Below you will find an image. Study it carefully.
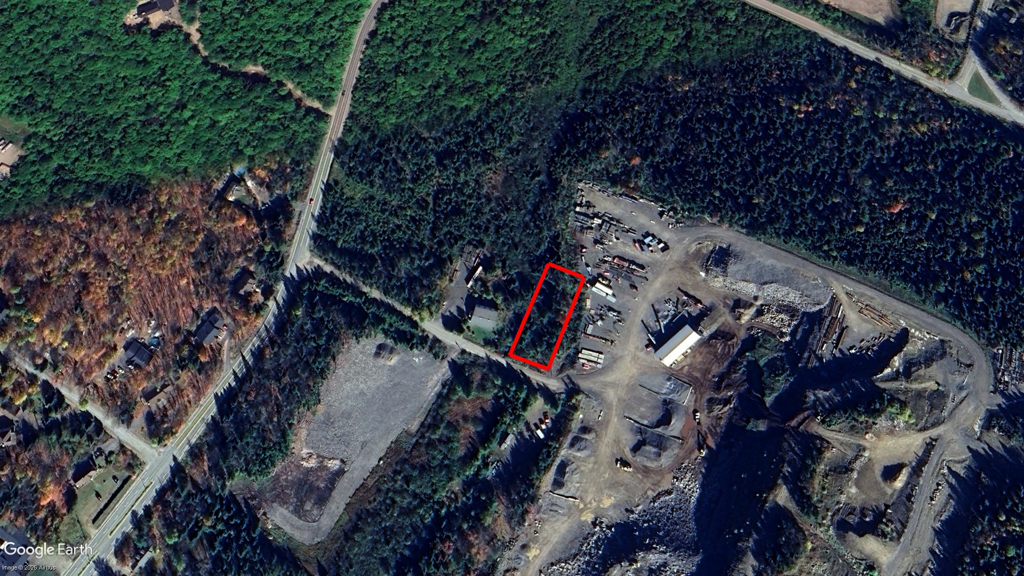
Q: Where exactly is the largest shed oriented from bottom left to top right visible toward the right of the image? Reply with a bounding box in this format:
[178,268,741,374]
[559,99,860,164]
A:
[656,325,702,367]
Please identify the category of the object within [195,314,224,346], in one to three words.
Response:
house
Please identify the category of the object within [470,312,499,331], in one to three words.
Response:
house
